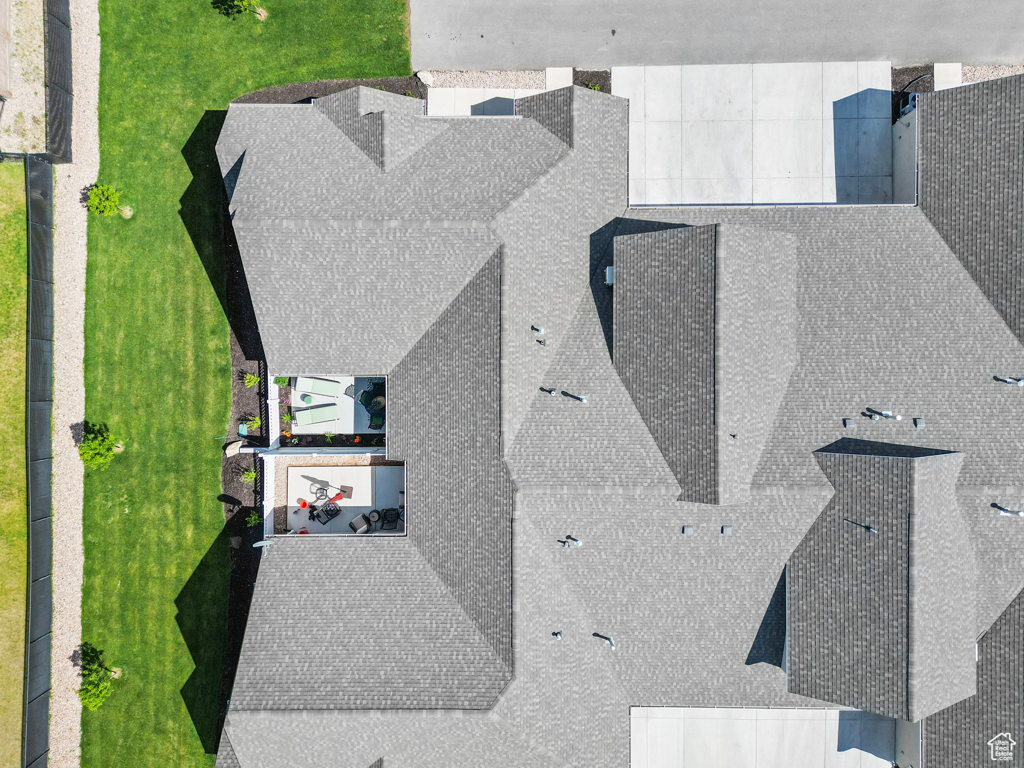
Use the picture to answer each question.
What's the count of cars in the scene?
none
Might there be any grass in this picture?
Yes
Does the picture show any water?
No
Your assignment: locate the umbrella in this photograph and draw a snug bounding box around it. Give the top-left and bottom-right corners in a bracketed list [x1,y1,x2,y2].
[330,485,353,503]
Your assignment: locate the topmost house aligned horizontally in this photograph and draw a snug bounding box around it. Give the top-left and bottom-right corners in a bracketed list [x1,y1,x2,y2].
[215,85,1024,506]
